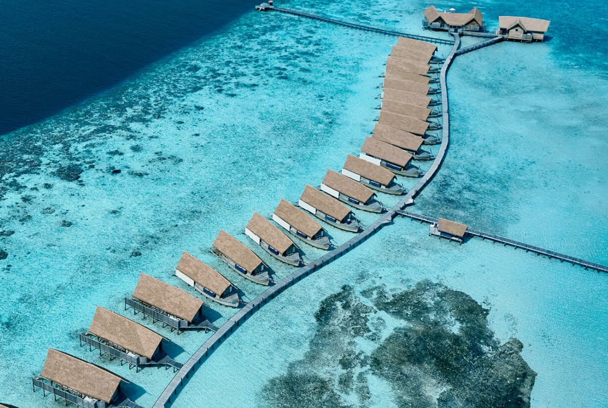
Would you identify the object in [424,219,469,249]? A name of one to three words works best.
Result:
building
